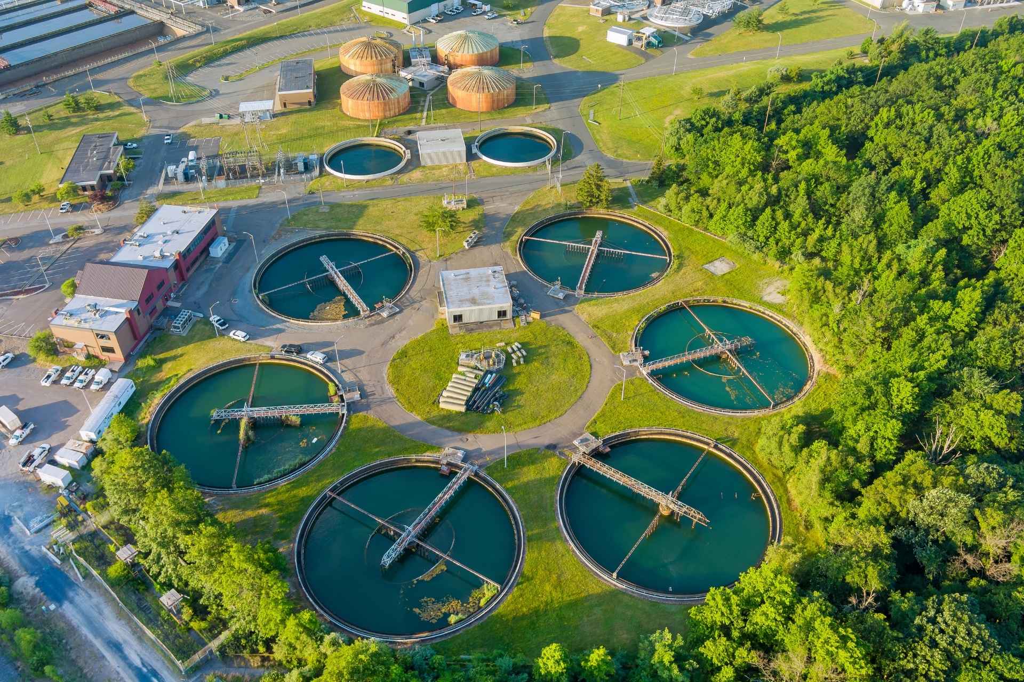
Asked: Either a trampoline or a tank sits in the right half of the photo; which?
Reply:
tank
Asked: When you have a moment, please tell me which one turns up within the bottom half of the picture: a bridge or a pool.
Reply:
bridge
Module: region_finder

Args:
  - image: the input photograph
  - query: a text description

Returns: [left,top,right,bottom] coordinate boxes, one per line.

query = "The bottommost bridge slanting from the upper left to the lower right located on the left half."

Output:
[321,253,371,322]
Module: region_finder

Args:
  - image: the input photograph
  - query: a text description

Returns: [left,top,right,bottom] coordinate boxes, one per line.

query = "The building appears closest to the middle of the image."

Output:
[438,265,516,338]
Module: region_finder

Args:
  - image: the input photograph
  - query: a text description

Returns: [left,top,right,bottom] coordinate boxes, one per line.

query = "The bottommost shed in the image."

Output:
[159,589,184,618]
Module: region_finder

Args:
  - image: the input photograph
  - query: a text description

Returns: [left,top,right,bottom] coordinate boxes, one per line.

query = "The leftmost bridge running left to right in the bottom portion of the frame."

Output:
[213,402,351,419]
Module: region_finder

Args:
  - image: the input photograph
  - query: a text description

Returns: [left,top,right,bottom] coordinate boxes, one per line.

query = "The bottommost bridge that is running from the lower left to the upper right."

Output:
[382,456,481,566]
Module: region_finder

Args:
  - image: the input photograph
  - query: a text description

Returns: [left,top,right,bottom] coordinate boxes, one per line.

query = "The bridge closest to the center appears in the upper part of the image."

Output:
[576,230,602,300]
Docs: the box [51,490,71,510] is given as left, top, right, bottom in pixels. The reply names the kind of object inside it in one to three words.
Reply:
work vehicle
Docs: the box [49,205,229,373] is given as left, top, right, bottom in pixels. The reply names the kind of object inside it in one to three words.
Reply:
building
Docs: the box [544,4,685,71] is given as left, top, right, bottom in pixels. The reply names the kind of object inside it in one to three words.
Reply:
shed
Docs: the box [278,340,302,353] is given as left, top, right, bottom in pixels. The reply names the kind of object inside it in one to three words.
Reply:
vehicle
